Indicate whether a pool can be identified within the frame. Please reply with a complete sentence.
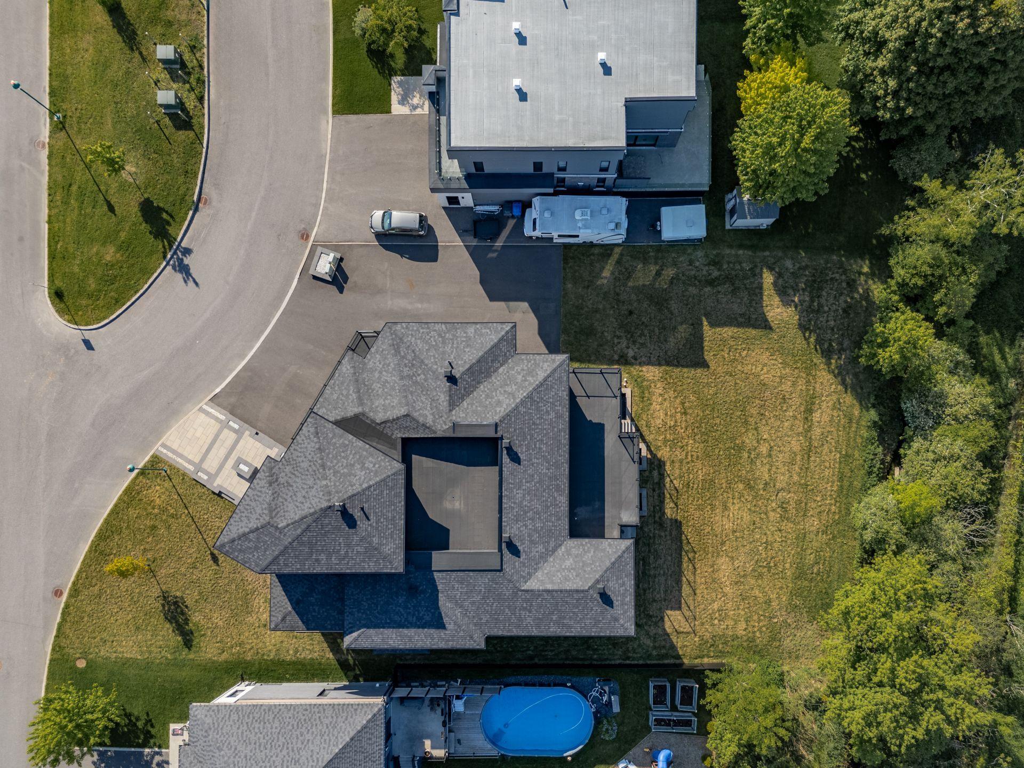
Yes, there's a pool here.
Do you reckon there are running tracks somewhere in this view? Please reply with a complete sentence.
No, no running track can be seen from above.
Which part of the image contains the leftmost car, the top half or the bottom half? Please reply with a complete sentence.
The top half of the photo is where the leftmost car is.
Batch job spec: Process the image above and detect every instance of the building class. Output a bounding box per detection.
[178,686,388,768]
[724,176,782,229]
[213,322,647,654]
[423,0,709,207]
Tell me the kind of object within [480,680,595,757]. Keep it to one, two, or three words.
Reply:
swimming pool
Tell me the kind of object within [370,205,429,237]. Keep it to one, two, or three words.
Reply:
car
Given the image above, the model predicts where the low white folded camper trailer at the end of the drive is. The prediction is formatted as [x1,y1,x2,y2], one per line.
[645,206,708,240]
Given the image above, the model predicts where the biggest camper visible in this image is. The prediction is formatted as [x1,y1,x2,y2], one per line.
[524,195,627,245]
